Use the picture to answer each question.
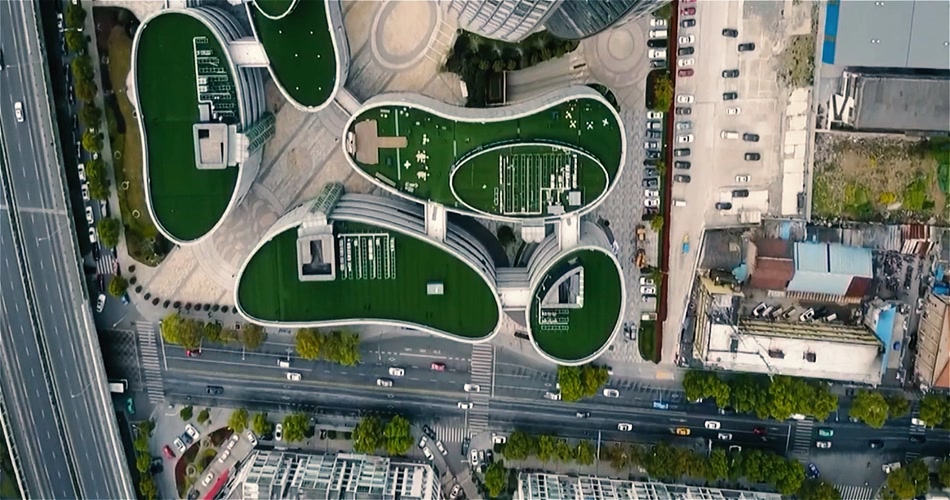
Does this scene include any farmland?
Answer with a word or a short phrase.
No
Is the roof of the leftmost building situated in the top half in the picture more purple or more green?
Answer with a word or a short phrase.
green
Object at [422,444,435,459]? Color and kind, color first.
white vehicle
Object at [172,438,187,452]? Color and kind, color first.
white vehicle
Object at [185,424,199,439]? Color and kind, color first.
white car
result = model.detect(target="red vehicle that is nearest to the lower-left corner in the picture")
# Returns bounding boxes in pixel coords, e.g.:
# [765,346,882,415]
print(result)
[161,444,175,458]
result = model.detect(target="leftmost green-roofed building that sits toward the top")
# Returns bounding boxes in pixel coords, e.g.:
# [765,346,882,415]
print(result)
[132,8,282,246]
